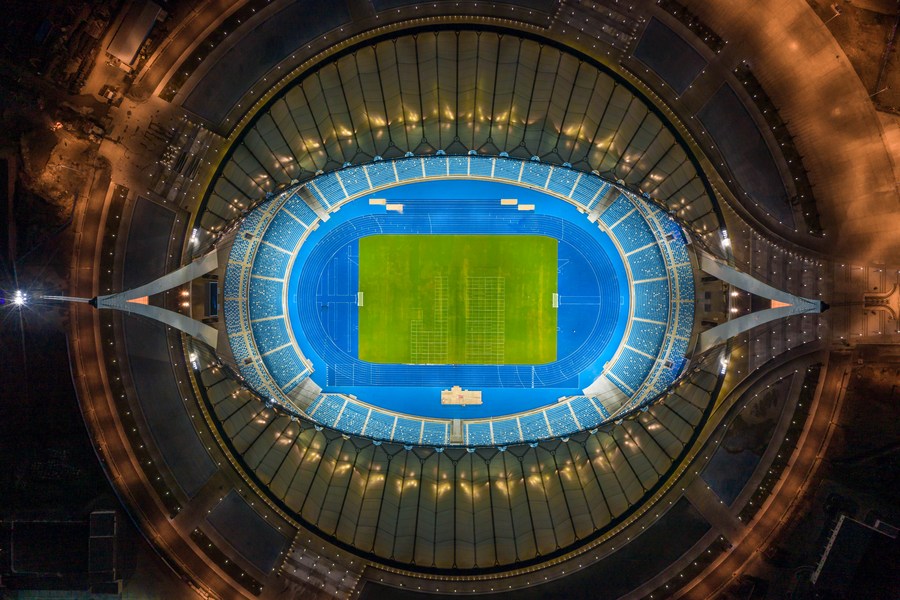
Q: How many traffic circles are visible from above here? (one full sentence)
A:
The picture shows no traffic circles.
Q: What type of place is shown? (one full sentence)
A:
The area seen from above is a sports ground.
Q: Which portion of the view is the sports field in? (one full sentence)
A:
The sports field appears toward the center of the photo.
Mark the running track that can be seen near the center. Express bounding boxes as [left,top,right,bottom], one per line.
[289,181,627,416]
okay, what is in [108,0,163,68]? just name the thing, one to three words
building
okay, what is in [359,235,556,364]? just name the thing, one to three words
sports field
